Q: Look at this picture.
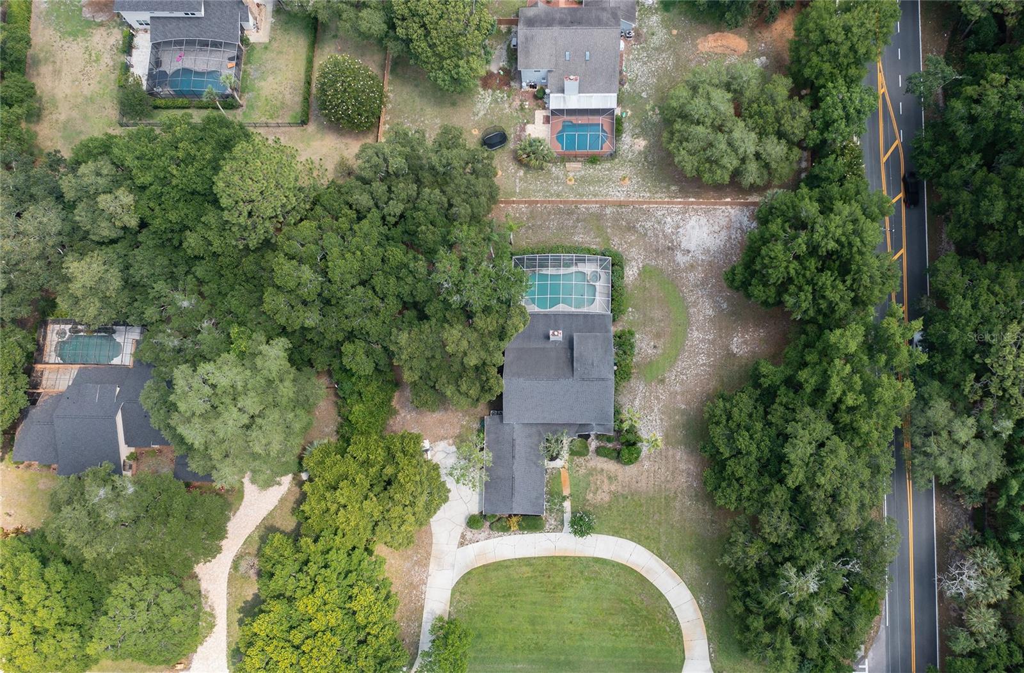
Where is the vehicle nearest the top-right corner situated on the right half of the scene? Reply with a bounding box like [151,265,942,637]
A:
[901,174,921,205]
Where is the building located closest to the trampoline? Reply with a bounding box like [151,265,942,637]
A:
[518,0,637,110]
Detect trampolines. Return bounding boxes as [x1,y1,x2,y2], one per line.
[482,127,506,148]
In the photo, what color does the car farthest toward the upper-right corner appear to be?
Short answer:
black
